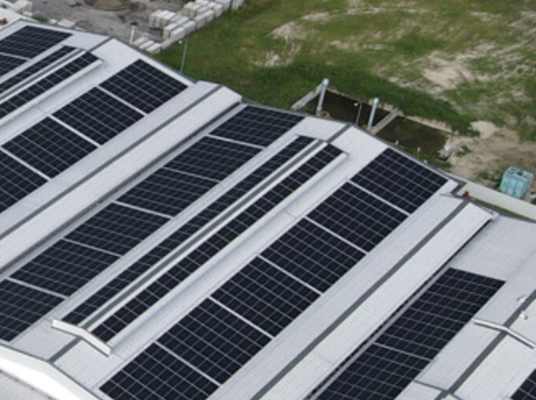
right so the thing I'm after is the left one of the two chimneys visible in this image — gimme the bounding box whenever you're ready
[316,77,329,113]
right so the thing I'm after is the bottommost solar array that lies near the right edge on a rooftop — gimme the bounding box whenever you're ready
[513,370,536,400]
